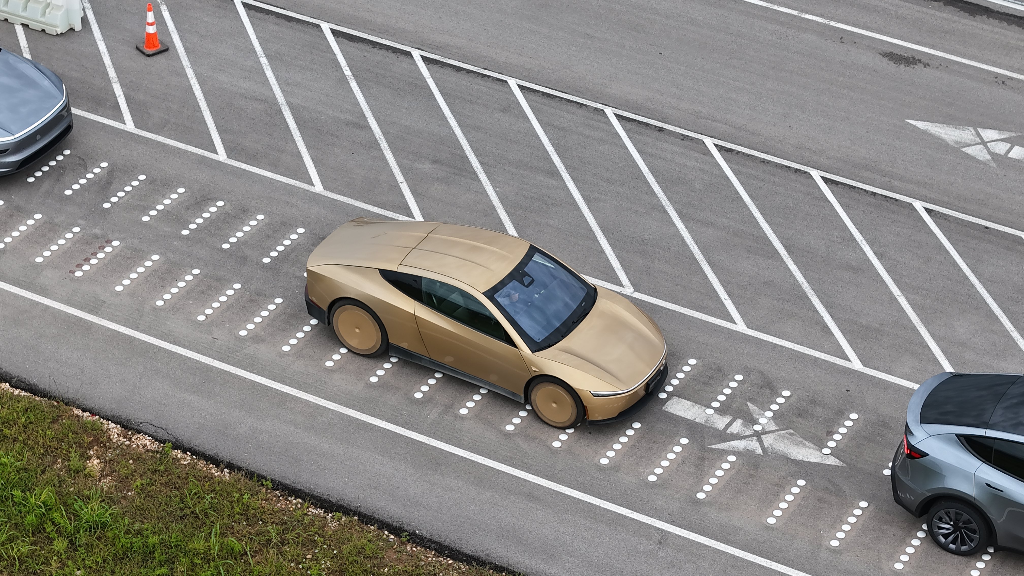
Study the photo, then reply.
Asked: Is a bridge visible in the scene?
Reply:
No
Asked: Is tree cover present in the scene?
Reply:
No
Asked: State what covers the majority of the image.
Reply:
paved ground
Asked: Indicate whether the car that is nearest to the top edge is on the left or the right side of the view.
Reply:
left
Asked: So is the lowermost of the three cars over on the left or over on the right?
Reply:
right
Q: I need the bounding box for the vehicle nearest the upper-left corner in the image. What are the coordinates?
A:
[0,44,72,178]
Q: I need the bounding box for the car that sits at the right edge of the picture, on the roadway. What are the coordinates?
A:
[891,369,1024,560]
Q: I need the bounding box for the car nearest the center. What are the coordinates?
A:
[307,214,672,427]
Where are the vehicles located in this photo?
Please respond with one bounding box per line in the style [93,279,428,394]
[891,369,1024,560]
[0,44,72,178]
[307,214,672,427]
